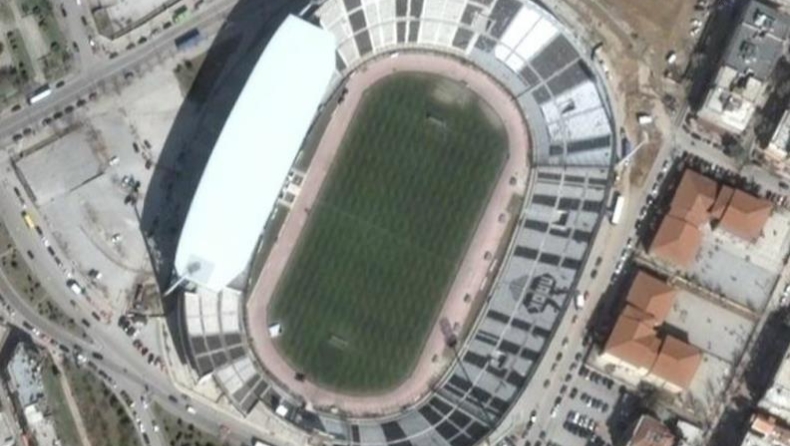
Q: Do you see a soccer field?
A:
Yes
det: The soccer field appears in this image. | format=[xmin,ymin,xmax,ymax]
[267,71,509,394]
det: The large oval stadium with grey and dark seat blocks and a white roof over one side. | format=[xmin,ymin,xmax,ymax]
[169,0,619,446]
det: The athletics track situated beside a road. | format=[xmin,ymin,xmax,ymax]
[247,52,529,415]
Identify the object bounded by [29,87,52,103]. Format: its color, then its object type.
white vehicle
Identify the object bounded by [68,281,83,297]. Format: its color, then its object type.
white vehicle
